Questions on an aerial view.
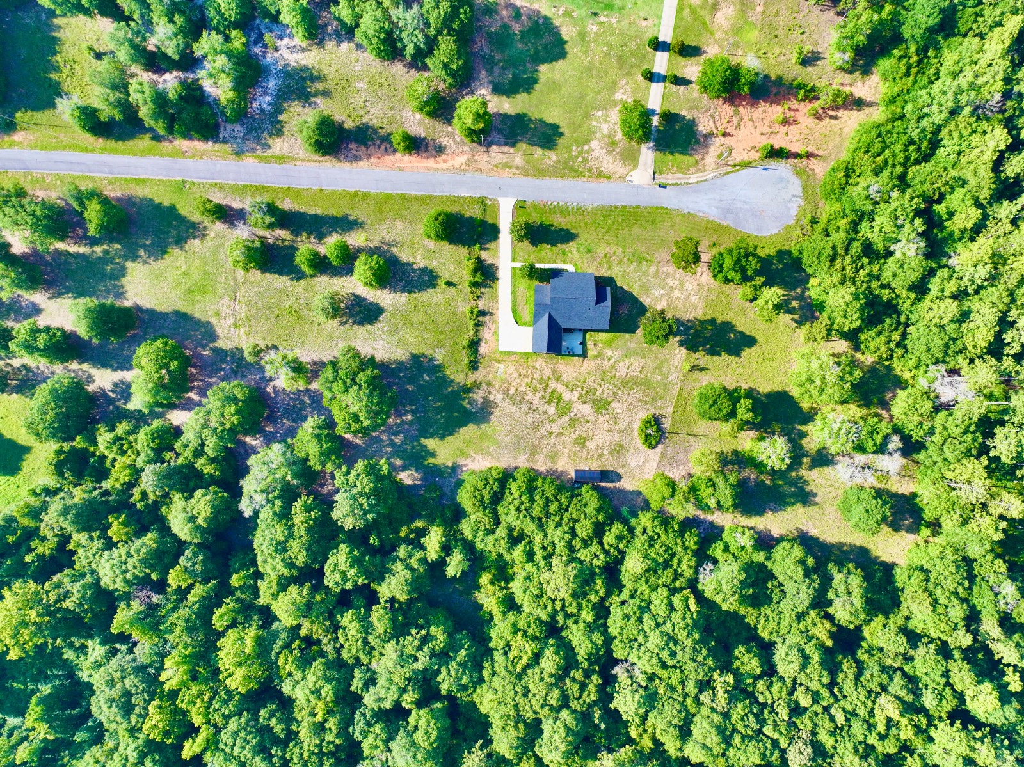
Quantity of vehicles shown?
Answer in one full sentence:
Not a single vehicle can be seen.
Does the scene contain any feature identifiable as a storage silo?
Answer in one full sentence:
No, this view has no storage silo in it.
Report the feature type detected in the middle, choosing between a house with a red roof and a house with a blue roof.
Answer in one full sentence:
You can see a house with a blue roof in the middle.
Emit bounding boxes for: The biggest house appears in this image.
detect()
[532,271,611,353]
